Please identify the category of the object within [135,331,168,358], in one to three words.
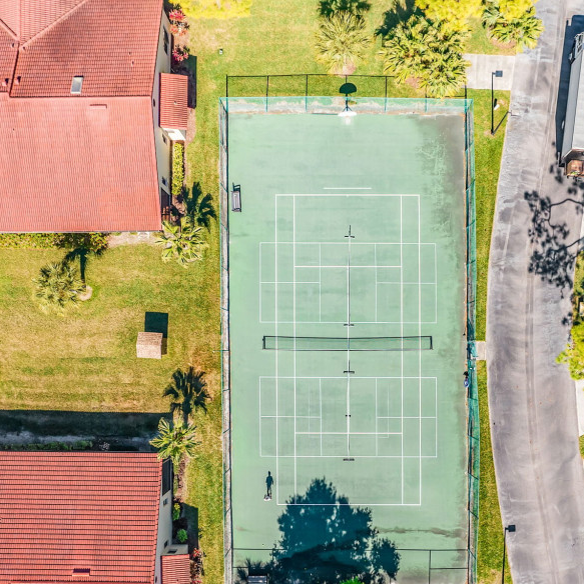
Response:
shed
